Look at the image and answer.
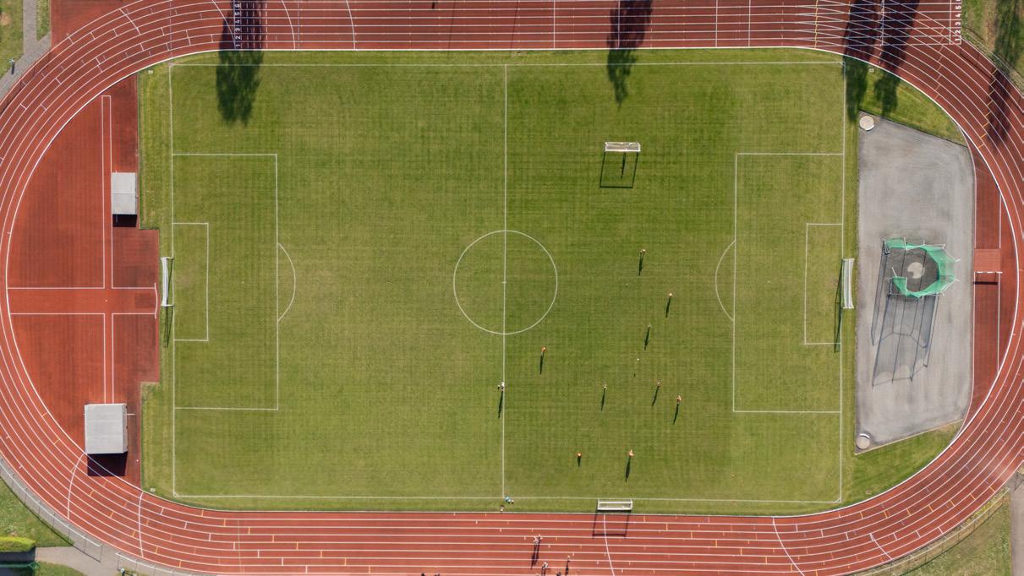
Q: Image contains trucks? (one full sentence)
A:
No, there is no truck in the image.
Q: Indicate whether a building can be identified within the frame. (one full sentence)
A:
No, I find no building anywhere in the image.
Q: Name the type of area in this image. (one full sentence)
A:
What you see here is a sports ground.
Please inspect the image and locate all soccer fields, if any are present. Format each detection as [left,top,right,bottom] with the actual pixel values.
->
[137,47,967,516]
